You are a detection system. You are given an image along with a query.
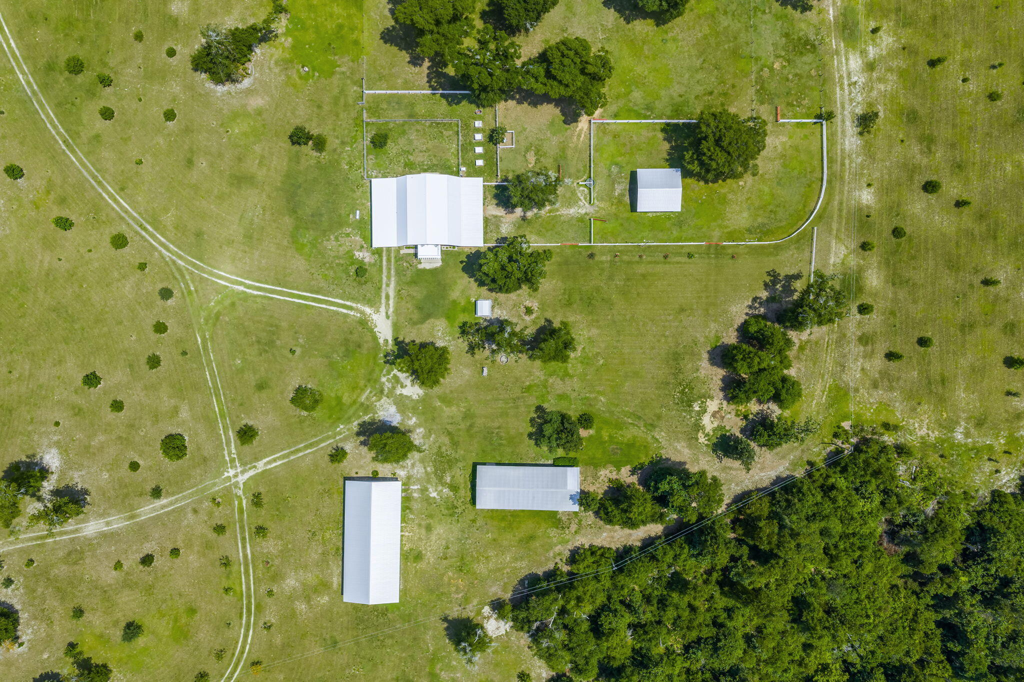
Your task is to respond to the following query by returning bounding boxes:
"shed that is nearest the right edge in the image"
[636,168,683,213]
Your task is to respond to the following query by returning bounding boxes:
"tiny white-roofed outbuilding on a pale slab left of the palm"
[474,299,492,317]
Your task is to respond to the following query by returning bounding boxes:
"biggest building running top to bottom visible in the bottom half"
[343,479,403,605]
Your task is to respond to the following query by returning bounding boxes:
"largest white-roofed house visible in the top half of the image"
[371,172,484,249]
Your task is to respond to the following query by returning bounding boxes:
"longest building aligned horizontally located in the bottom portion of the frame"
[476,464,580,512]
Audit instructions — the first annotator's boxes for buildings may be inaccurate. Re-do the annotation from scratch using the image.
[636,168,683,213]
[474,299,492,317]
[371,172,484,249]
[476,464,580,512]
[343,479,403,605]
